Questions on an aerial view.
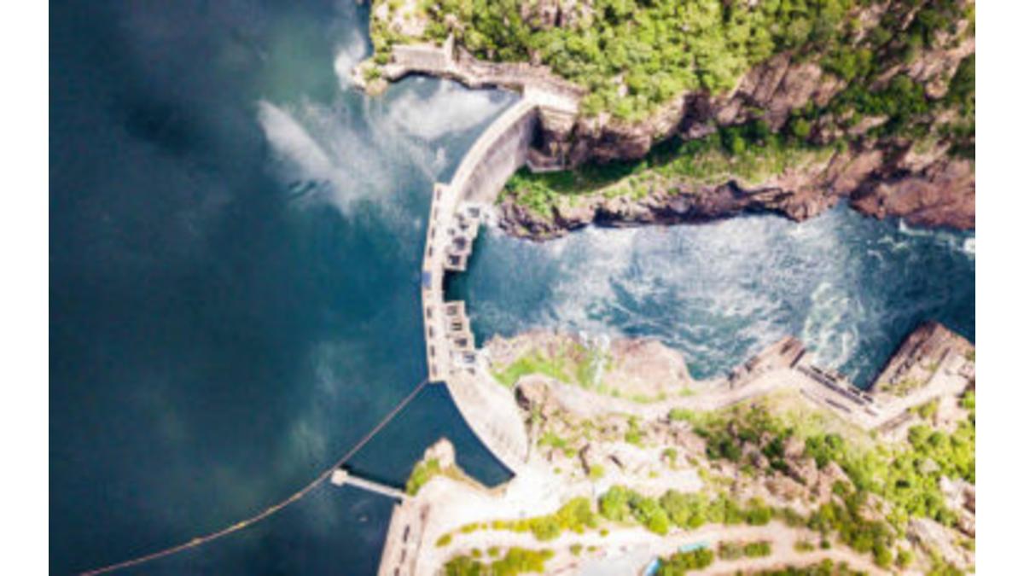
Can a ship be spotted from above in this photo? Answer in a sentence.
No, there isn't any ship down there.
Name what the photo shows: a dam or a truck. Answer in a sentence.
Visible in the photo is a dam.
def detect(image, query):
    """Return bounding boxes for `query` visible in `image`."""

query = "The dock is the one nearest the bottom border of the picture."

[331,467,410,501]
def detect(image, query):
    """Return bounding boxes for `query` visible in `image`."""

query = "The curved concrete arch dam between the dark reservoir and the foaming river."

[422,98,538,475]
